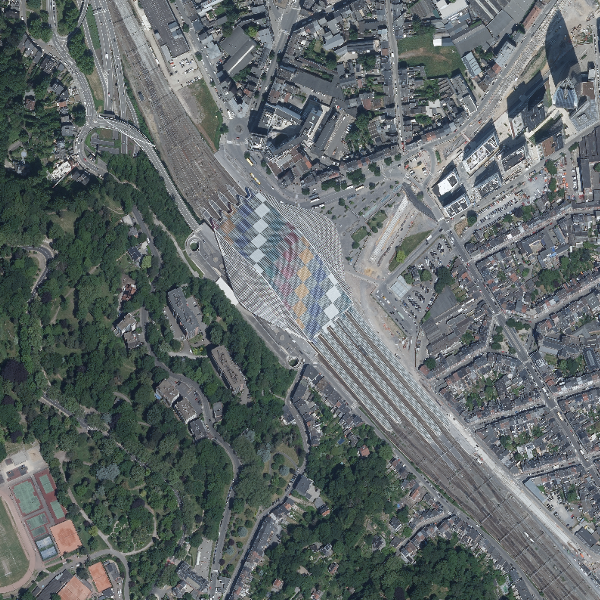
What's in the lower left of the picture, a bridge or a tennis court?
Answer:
tennis court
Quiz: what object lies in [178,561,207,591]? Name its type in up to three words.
house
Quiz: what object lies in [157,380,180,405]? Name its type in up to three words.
building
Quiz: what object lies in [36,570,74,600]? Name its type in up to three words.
building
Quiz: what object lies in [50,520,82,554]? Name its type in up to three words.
tennis court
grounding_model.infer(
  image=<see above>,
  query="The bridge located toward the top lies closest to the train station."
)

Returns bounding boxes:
[92,116,198,233]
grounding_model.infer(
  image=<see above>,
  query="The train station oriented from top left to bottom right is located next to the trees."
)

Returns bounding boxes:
[196,172,469,462]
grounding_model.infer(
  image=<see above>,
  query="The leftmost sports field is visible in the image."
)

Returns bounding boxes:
[0,492,28,585]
